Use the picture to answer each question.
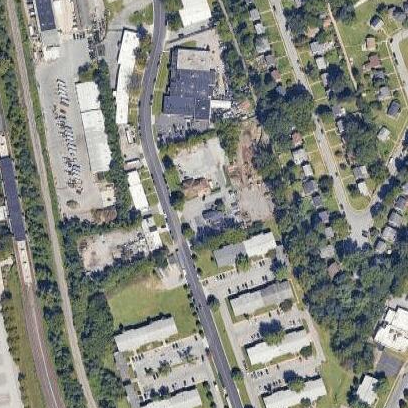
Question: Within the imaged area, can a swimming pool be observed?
No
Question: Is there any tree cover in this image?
Yes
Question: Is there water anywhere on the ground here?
No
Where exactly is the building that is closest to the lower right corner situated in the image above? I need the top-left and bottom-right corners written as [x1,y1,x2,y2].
[357,376,378,406]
